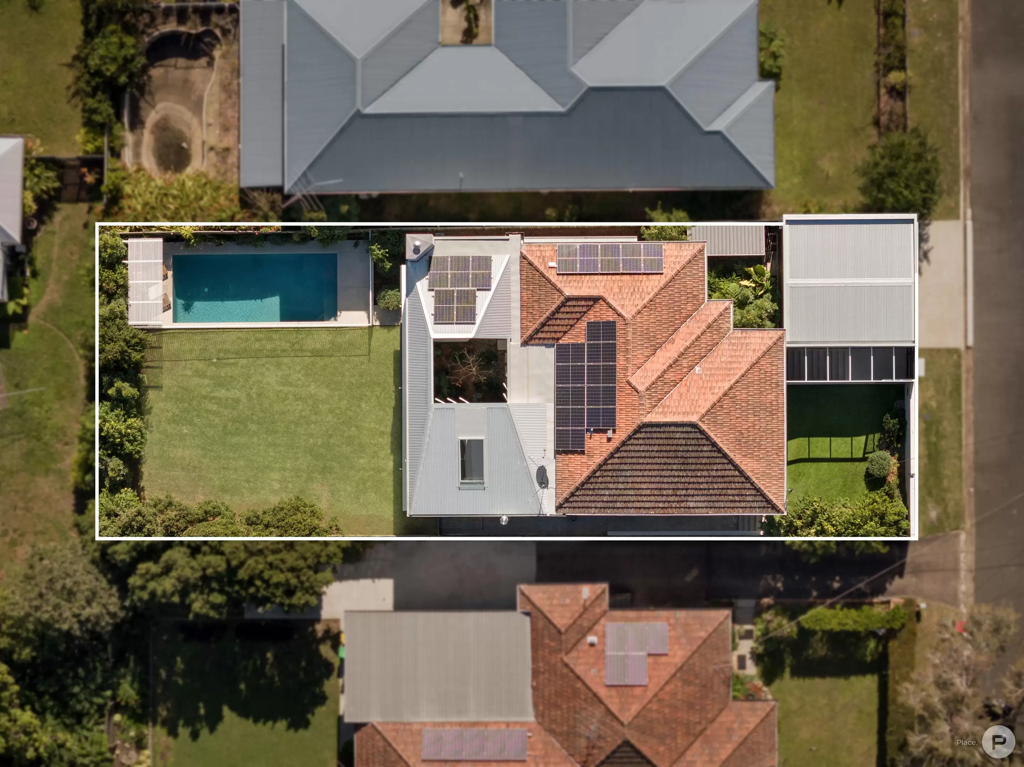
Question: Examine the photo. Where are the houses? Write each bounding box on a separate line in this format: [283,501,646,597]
[0,135,35,301]
[237,0,778,199]
[400,232,789,518]
[344,580,780,767]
